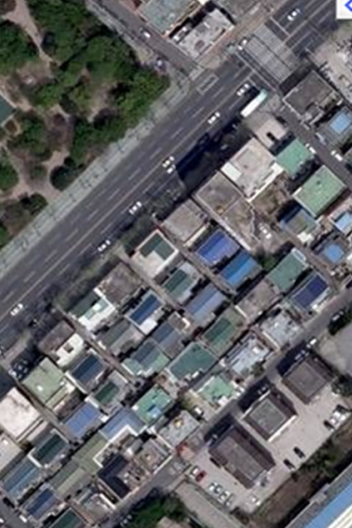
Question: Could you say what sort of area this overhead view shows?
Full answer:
What you see here is a residential area.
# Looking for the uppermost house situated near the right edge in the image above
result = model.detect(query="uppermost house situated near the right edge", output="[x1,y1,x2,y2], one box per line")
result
[281,72,344,127]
